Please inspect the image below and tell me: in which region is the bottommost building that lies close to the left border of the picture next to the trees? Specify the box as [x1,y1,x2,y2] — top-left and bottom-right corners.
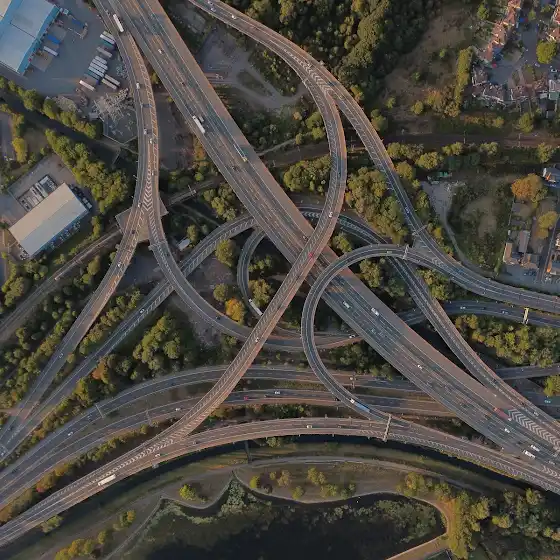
[9,183,91,256]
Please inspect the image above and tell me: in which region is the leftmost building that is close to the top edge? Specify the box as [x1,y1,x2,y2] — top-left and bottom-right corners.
[0,0,66,76]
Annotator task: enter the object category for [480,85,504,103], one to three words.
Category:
house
